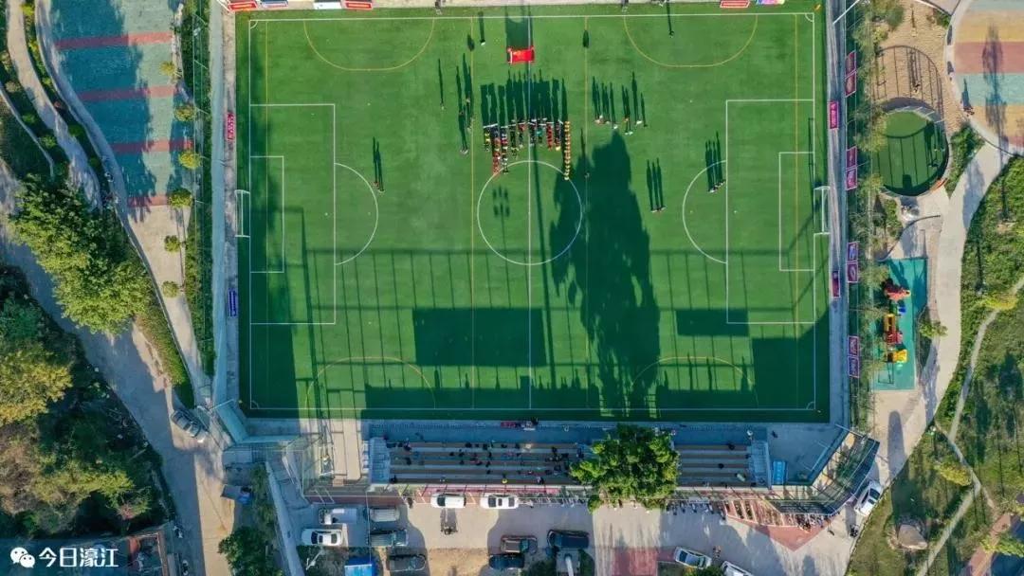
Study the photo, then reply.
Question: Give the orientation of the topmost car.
at an angle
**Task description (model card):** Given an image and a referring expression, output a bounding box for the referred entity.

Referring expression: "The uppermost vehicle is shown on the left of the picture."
[169,408,205,439]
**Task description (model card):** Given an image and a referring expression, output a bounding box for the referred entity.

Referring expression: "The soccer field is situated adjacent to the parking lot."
[236,3,831,421]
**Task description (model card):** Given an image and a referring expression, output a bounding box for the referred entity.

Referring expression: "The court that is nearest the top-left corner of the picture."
[51,0,199,206]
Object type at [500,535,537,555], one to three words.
car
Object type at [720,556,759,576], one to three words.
car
